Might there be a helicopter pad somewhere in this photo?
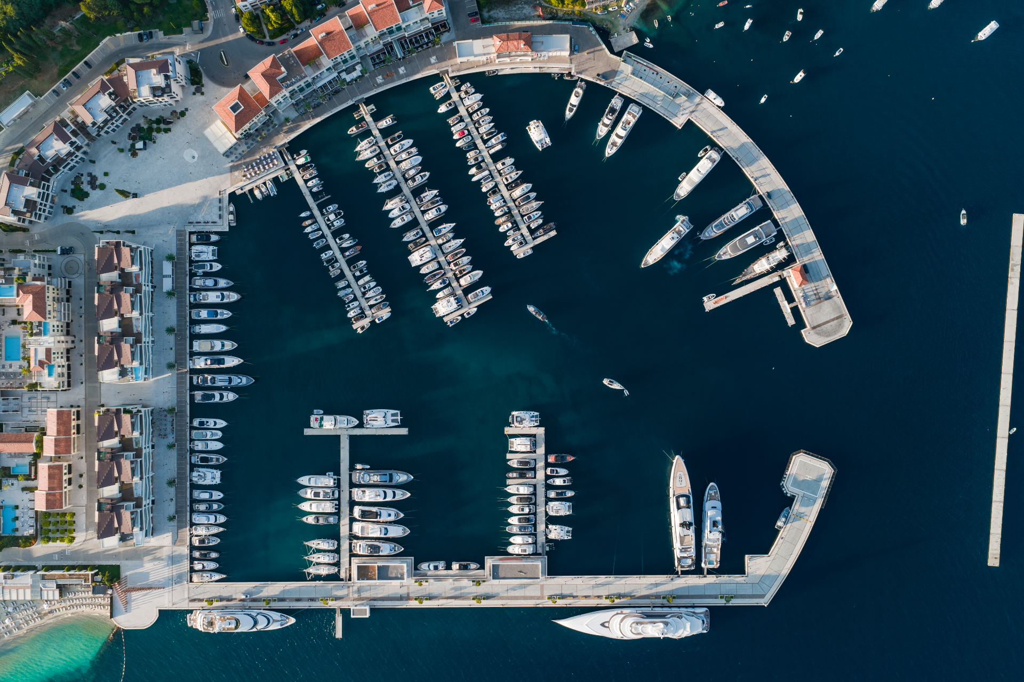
Yes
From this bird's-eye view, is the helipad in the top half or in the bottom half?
bottom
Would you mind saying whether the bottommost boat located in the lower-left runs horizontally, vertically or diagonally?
horizontally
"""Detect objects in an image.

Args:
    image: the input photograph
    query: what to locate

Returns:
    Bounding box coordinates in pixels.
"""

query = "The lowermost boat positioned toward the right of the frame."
[552,594,710,639]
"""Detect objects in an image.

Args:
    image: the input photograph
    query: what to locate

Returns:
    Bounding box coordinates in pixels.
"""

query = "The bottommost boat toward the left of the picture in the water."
[186,601,294,635]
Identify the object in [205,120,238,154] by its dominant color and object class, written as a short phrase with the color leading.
white tent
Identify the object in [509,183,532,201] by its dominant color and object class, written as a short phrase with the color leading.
white boat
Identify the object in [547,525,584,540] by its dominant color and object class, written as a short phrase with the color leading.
white boat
